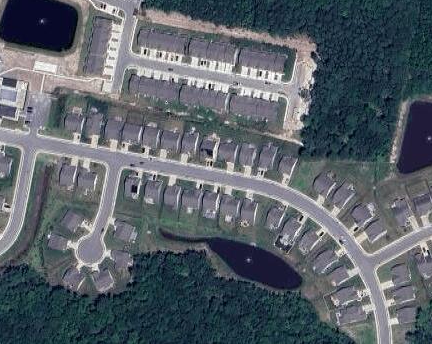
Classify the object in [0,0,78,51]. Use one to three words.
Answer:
pond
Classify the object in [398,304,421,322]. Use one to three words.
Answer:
house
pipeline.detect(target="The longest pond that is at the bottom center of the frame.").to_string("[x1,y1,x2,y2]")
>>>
[161,233,302,290]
